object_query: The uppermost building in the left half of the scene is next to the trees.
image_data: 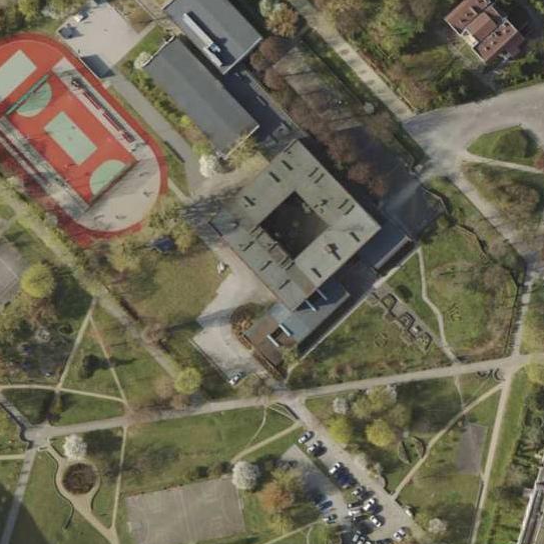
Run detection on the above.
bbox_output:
[164,0,262,76]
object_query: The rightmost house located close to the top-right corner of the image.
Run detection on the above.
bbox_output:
[443,0,525,64]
